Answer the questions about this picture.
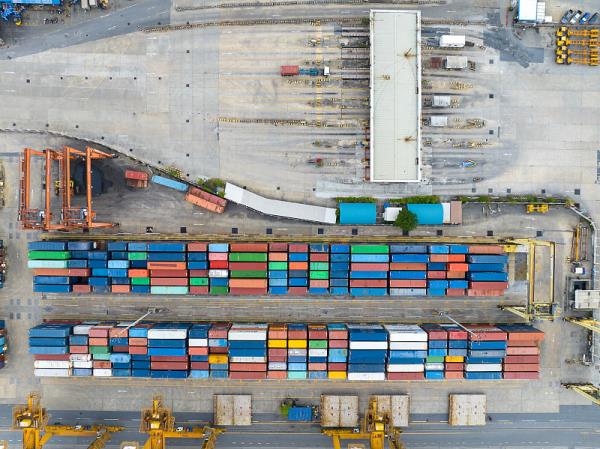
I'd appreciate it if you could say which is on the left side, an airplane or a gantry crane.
gantry crane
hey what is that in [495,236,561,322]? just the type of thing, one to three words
container crane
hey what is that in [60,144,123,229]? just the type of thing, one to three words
container crane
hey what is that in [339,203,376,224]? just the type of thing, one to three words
shed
